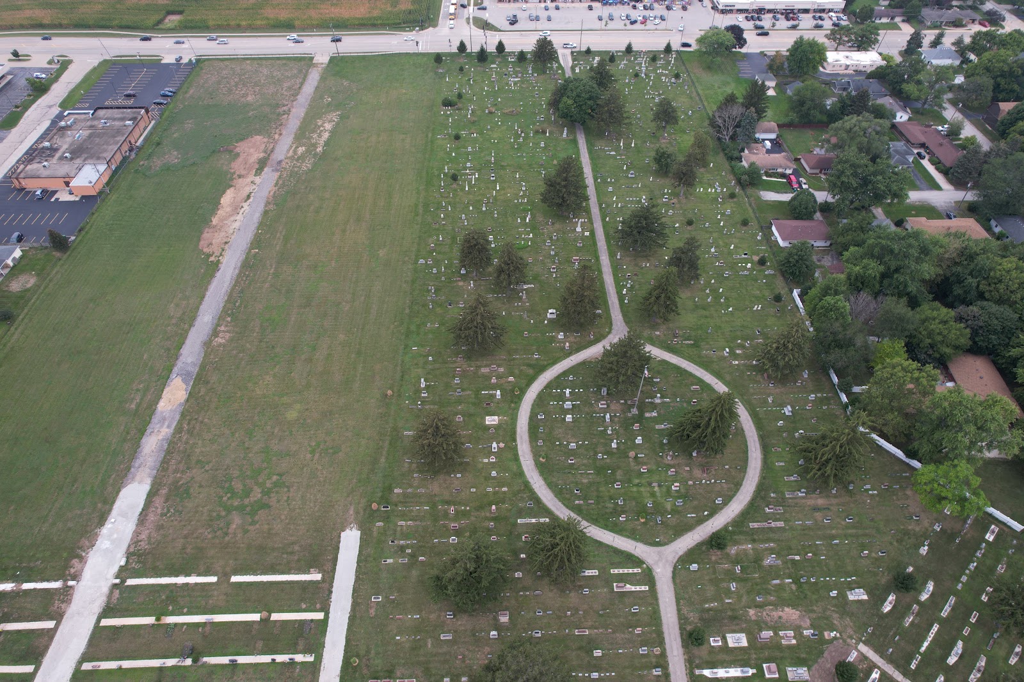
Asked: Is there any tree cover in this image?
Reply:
Yes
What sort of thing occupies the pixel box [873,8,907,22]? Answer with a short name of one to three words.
house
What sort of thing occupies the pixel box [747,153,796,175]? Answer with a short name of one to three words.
house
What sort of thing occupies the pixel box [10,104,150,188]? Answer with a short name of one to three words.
building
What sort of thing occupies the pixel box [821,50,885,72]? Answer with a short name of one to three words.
building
